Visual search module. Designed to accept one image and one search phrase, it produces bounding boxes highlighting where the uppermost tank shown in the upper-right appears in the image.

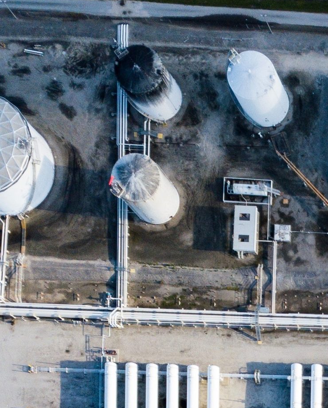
[226,48,293,131]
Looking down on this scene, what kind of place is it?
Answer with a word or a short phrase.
industrial area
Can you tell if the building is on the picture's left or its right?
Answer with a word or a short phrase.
right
